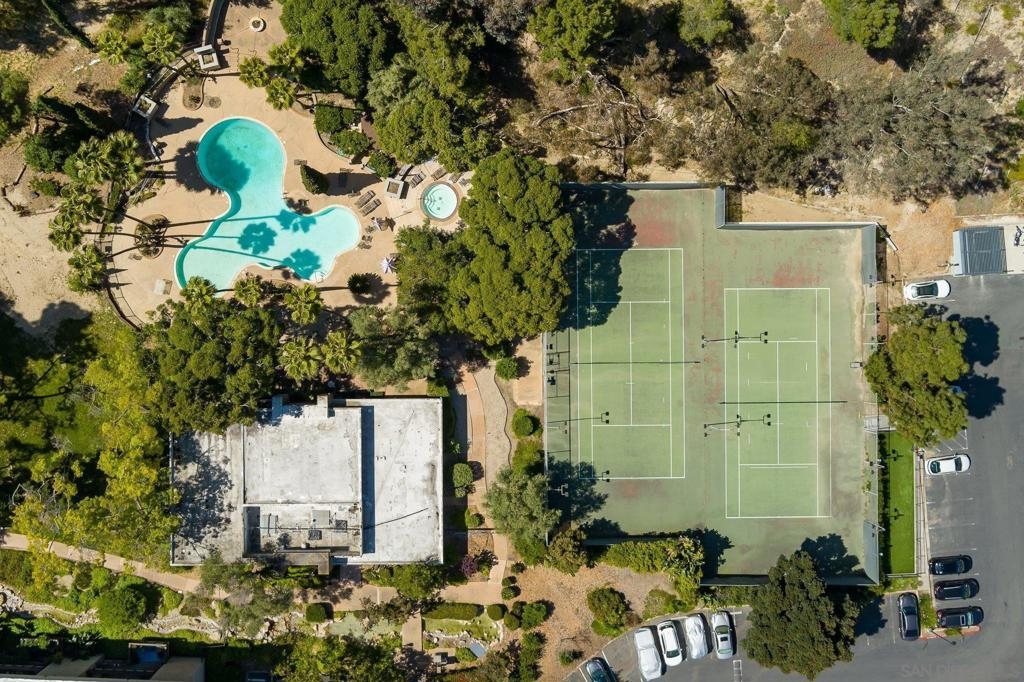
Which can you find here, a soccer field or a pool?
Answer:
pool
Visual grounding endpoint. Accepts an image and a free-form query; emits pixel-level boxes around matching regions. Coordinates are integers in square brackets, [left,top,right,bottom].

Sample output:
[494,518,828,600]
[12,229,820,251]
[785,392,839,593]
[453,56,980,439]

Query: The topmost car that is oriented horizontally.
[901,278,950,300]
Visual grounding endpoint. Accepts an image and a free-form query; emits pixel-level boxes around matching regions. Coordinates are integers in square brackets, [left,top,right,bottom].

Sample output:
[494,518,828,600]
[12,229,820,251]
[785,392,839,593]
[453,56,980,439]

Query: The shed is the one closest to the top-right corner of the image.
[951,227,1006,276]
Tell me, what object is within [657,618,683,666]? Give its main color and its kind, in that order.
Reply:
white car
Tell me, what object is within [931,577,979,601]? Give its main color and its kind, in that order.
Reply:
black car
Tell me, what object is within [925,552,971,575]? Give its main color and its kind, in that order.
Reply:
black car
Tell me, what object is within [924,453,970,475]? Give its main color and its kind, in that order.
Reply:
white car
